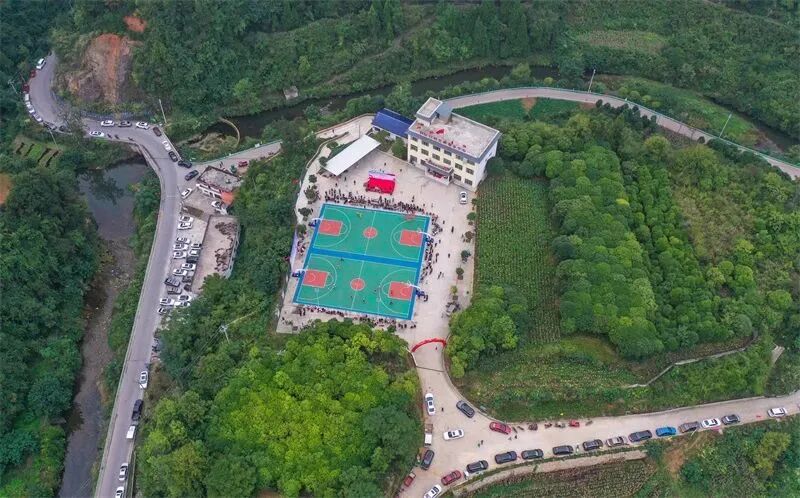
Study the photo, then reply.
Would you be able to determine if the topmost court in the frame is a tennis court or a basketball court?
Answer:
basketball court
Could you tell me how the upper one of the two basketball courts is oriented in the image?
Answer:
horizontally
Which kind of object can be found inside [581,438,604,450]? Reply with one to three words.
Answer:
vehicle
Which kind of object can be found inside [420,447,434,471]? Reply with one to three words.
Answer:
car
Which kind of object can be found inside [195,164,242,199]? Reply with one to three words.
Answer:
house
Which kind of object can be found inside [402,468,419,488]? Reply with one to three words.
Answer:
vehicle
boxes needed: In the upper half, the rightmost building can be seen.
[406,96,503,191]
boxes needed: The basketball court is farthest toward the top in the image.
[313,206,426,262]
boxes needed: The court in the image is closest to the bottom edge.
[297,253,417,317]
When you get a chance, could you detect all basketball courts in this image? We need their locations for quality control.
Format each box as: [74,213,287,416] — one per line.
[297,253,417,317]
[313,206,426,262]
